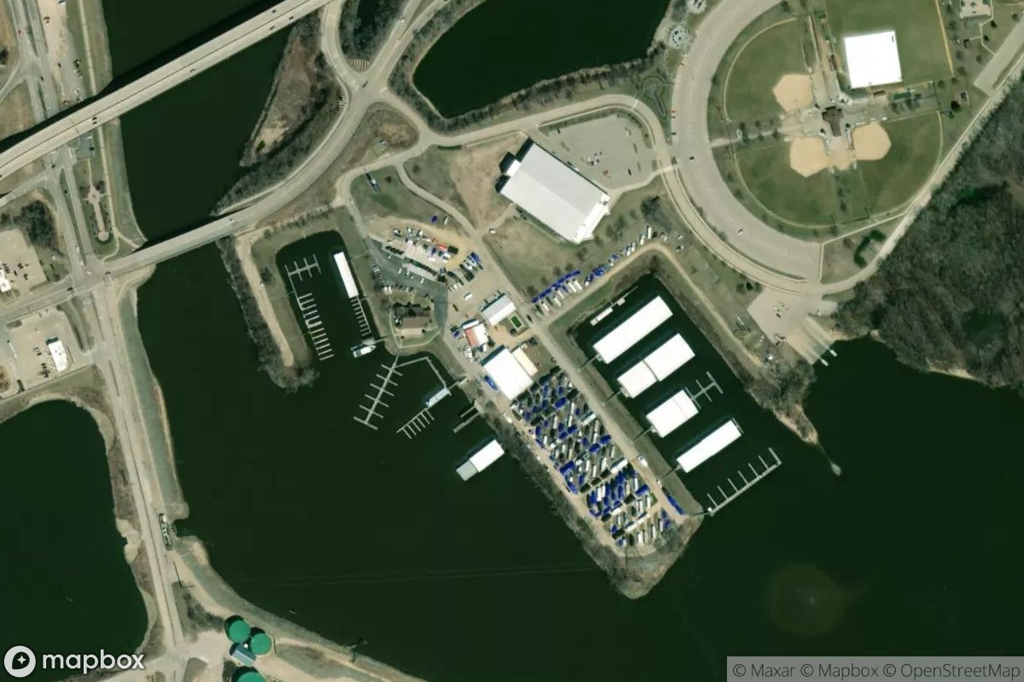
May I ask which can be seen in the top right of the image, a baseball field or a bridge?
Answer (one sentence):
There is a baseball field in the top right of the image.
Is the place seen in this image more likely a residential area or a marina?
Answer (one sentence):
It's a marina.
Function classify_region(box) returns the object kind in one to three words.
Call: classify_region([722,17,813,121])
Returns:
baseball field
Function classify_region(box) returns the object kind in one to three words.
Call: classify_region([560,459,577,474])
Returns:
boat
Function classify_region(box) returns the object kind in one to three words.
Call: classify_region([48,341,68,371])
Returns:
building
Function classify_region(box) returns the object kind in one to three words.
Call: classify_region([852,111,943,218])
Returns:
baseball field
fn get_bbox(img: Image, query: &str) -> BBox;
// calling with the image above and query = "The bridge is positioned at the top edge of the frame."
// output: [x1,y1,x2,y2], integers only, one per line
[0,0,338,179]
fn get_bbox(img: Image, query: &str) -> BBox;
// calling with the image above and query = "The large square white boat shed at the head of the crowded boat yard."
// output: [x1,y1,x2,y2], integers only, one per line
[484,348,533,399]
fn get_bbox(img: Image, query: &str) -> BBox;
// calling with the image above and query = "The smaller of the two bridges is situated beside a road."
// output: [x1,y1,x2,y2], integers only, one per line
[143,218,237,266]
